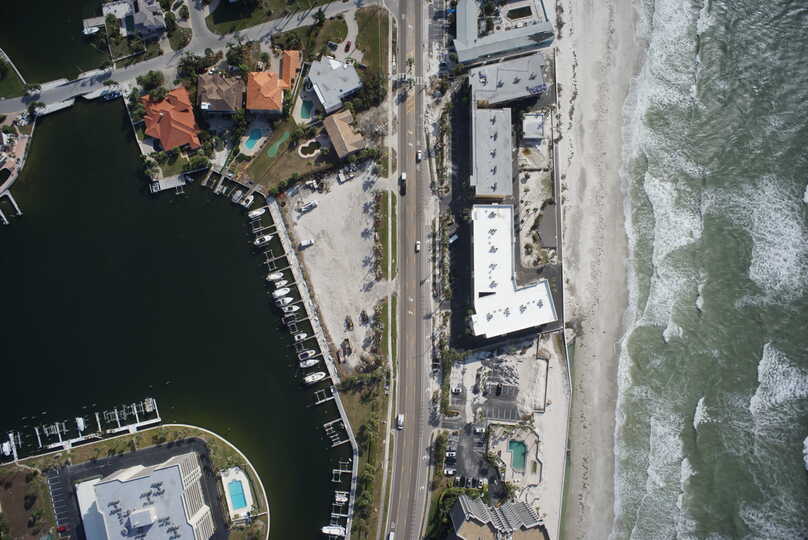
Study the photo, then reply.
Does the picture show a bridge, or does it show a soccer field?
bridge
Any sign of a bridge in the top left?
Yes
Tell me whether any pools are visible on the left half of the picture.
Yes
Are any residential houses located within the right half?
Yes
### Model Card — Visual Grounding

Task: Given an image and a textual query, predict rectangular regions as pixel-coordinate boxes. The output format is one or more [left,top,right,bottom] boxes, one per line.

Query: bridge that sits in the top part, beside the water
[39,68,112,112]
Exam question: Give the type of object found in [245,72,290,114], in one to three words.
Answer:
house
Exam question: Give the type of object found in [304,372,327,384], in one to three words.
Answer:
boat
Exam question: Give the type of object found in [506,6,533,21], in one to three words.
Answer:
swimming pool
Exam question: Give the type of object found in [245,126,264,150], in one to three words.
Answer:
swimming pool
